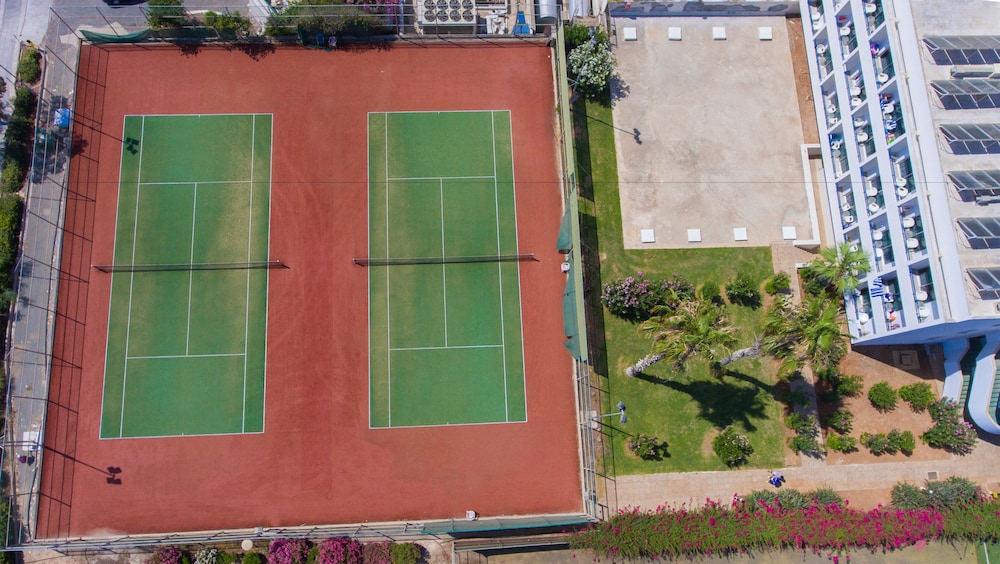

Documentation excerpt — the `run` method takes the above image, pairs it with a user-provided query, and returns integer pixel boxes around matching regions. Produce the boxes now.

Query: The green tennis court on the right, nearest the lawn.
[354,110,532,428]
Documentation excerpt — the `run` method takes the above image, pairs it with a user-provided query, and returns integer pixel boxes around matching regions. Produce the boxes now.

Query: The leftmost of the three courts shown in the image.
[91,114,282,438]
